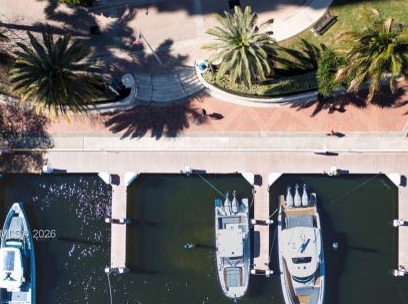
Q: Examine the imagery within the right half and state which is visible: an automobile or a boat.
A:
boat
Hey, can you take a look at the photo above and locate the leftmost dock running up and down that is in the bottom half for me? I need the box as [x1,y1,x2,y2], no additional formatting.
[97,173,139,272]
